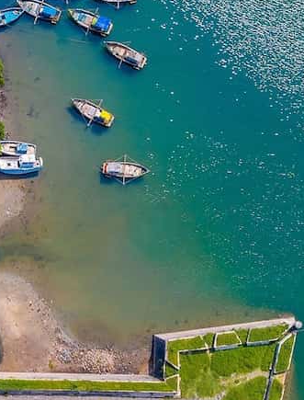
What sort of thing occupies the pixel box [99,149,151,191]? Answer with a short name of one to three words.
boat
